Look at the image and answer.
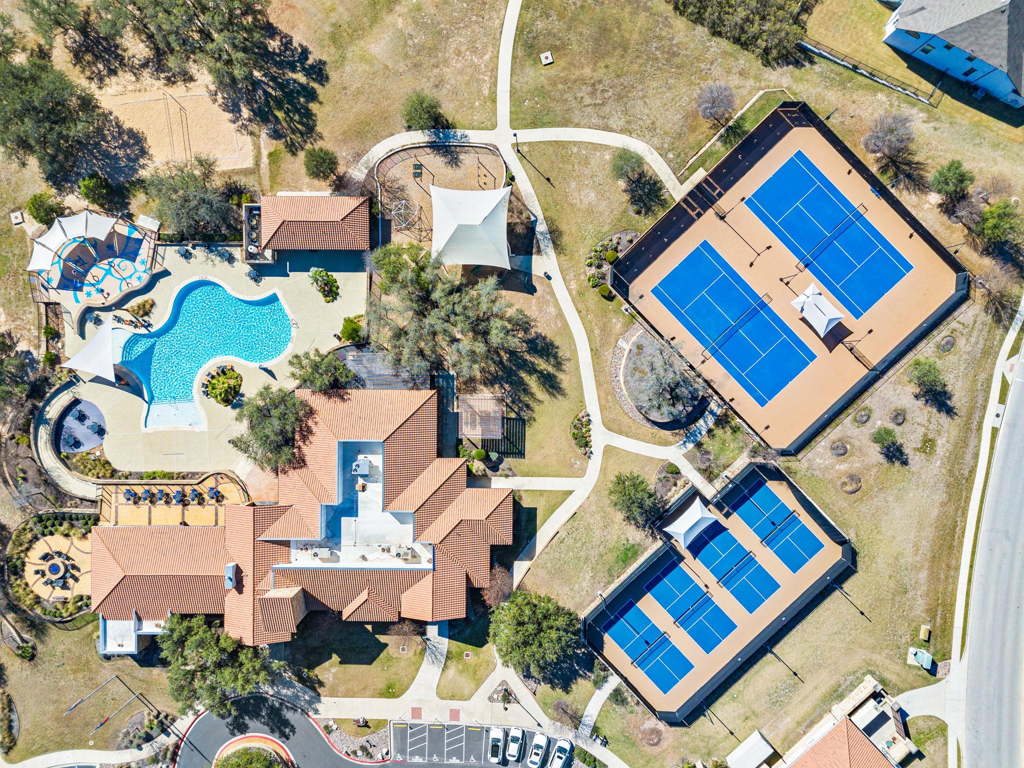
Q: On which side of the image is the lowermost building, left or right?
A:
right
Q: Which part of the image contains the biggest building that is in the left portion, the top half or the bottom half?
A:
bottom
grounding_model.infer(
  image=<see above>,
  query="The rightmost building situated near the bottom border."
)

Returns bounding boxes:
[770,711,900,768]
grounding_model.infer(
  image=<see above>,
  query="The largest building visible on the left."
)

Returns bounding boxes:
[90,389,513,654]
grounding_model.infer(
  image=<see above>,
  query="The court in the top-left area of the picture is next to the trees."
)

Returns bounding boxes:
[98,81,253,172]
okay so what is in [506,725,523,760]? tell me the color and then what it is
white car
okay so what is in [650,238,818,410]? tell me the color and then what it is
blue tennis court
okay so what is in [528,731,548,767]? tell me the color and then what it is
white car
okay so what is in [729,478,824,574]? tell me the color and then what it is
blue sports court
